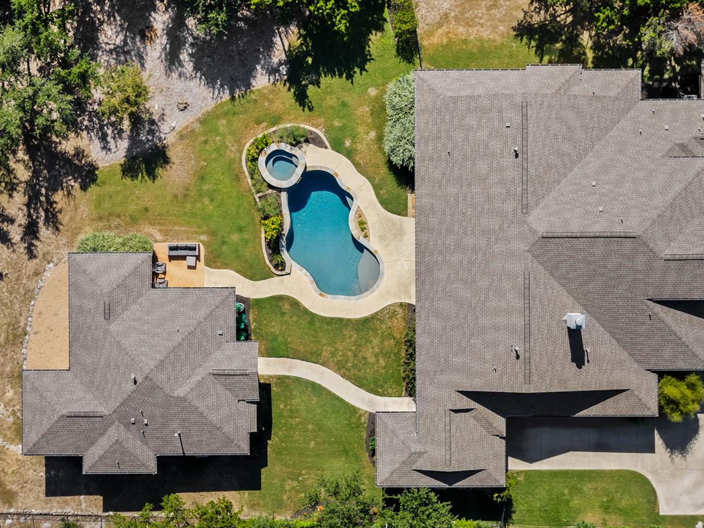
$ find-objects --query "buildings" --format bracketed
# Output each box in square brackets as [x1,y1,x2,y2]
[375,56,704,489]
[20,252,260,476]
